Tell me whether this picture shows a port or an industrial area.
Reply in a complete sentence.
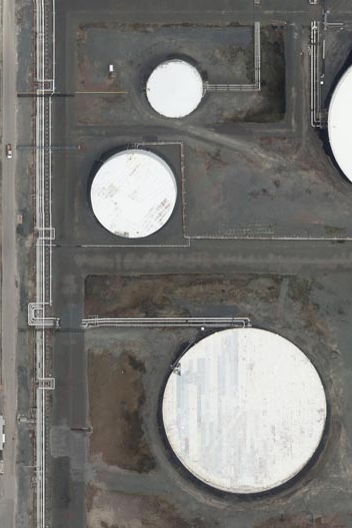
It's an industrial area.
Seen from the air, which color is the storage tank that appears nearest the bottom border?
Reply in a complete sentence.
The storage tank that appears nearest the bottom border is white.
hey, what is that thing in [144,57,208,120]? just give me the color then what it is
white storage tank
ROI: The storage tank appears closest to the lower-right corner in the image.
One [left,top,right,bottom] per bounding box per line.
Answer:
[157,326,330,498]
